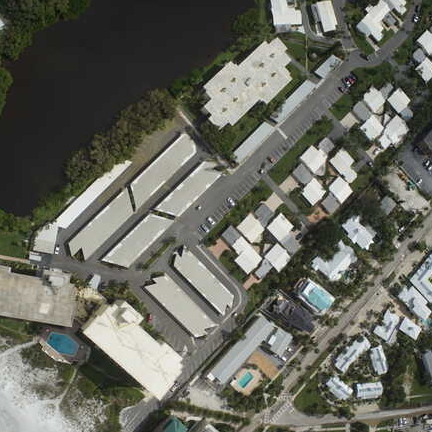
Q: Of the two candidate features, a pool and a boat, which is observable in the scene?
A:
pool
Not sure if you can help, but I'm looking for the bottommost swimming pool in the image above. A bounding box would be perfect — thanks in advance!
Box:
[231,370,263,396]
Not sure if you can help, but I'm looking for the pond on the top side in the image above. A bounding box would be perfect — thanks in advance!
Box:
[0,0,253,216]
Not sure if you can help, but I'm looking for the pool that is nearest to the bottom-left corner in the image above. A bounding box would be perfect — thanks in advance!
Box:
[38,327,90,365]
